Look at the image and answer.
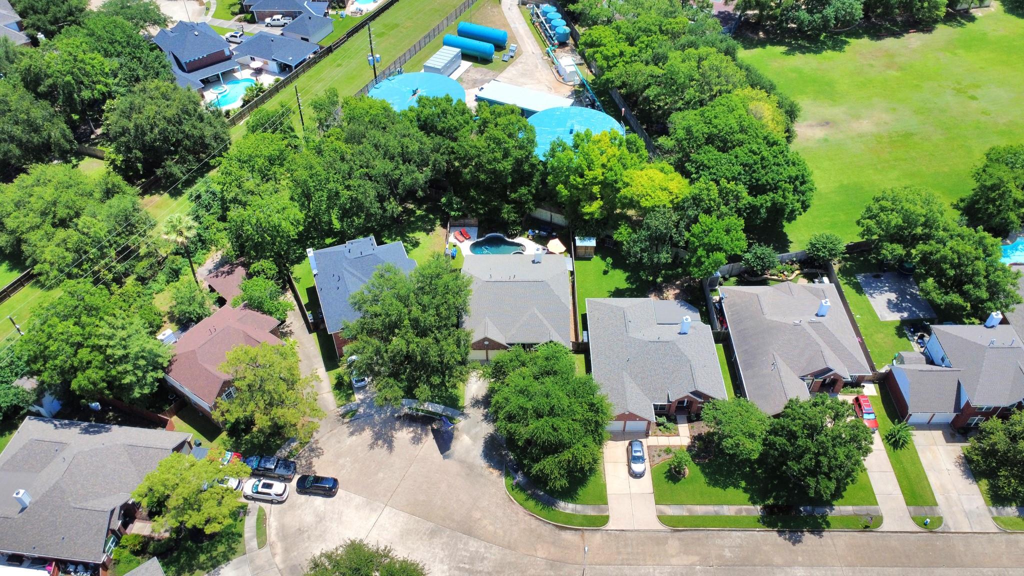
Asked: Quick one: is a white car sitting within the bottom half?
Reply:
Yes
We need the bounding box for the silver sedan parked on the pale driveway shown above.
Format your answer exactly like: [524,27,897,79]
[626,438,649,476]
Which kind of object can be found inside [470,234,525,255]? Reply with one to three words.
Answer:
swimming pool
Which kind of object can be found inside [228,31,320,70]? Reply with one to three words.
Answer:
house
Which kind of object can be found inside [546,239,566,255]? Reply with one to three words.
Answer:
umbrella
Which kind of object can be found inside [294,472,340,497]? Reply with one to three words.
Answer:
car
